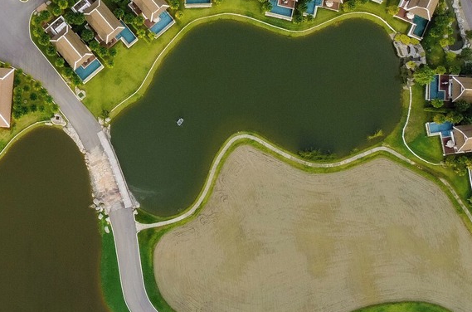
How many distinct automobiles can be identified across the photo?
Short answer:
0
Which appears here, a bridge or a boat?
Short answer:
bridge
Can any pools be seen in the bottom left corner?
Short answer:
No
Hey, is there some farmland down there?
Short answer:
Yes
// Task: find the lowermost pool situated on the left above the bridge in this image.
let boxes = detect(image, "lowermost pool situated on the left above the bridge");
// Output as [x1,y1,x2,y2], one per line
[76,58,105,84]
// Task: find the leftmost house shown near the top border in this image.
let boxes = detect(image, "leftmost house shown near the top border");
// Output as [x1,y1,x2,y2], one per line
[41,16,98,70]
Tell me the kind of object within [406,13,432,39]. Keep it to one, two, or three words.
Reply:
swimming pool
